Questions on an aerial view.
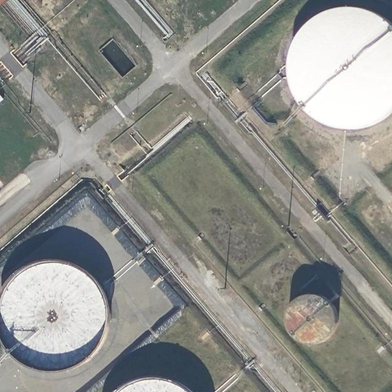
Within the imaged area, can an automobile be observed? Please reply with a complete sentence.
No, the photo shows no automobile.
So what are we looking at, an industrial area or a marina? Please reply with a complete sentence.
It's an industrial area.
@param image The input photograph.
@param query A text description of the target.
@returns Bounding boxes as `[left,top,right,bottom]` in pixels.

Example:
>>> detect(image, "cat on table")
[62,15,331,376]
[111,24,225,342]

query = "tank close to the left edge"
[0,258,108,372]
